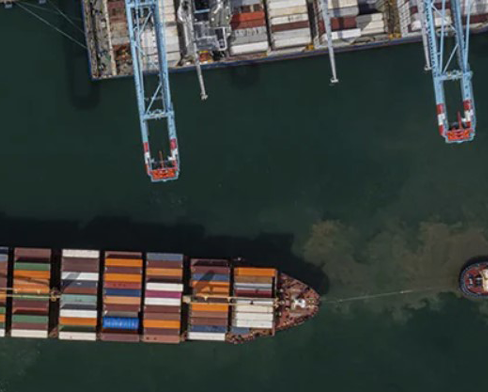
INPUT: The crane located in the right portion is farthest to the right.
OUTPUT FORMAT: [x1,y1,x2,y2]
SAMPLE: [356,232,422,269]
[425,0,479,144]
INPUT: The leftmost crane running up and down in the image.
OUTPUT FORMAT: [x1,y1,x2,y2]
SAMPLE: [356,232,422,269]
[124,0,182,183]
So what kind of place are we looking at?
port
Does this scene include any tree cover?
No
